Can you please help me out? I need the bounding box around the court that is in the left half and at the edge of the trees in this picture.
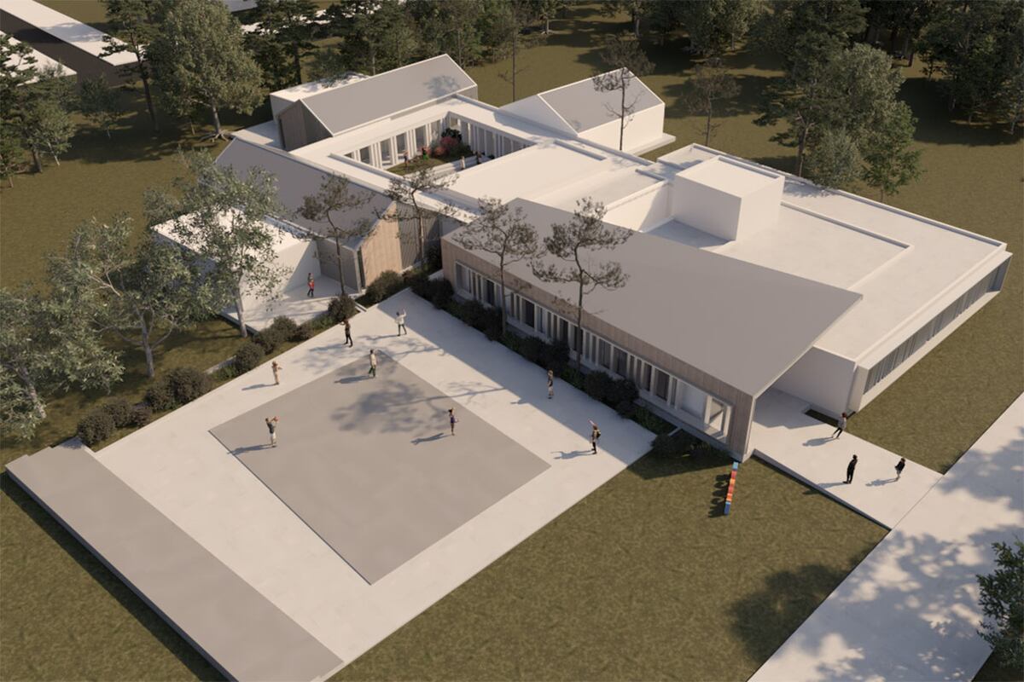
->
[209,348,551,583]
